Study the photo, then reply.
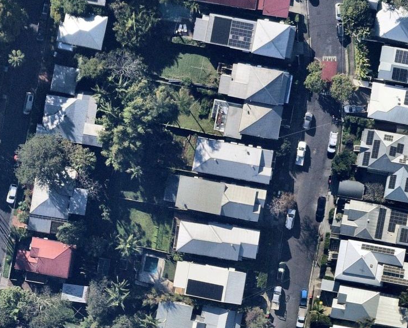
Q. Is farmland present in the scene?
No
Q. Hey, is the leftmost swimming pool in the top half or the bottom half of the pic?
bottom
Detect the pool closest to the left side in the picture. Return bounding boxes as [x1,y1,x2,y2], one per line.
[141,254,165,278]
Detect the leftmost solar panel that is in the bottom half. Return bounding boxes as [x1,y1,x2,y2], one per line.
[186,279,223,300]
